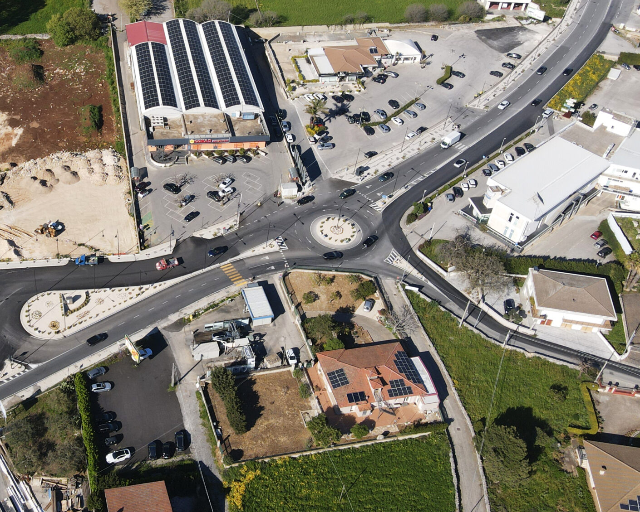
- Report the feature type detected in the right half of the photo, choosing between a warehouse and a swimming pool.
warehouse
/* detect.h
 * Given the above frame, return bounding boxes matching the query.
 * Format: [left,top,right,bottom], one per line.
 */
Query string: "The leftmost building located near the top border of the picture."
[125,17,269,150]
